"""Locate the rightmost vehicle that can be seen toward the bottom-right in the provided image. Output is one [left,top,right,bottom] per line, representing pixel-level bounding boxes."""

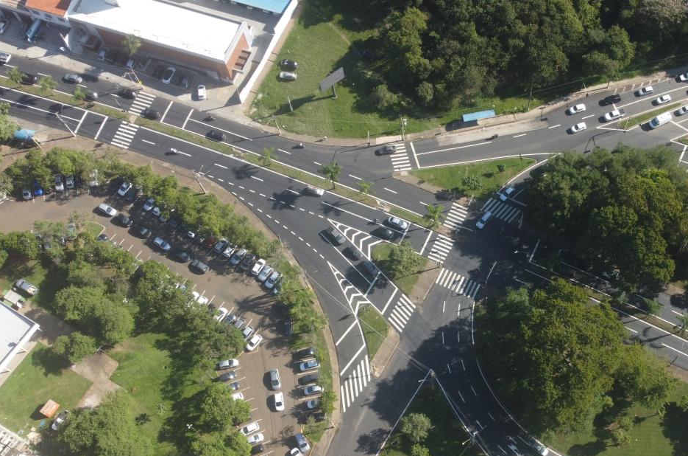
[530,439,549,456]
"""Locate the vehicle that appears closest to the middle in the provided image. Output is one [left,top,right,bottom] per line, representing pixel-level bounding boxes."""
[328,227,348,244]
